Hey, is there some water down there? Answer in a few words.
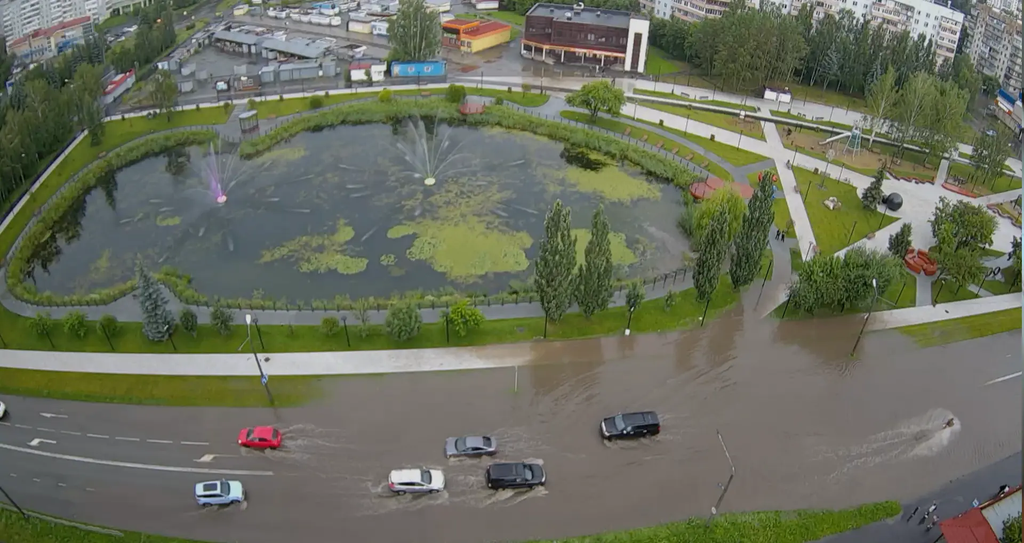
Yes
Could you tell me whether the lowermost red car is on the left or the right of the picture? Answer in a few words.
left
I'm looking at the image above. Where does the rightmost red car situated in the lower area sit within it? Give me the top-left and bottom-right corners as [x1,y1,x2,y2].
[234,427,284,451]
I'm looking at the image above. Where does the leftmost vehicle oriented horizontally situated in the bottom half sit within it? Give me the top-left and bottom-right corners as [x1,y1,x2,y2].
[187,478,249,509]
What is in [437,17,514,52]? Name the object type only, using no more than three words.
building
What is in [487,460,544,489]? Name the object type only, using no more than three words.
car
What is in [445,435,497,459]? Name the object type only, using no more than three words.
car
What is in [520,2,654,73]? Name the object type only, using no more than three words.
building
